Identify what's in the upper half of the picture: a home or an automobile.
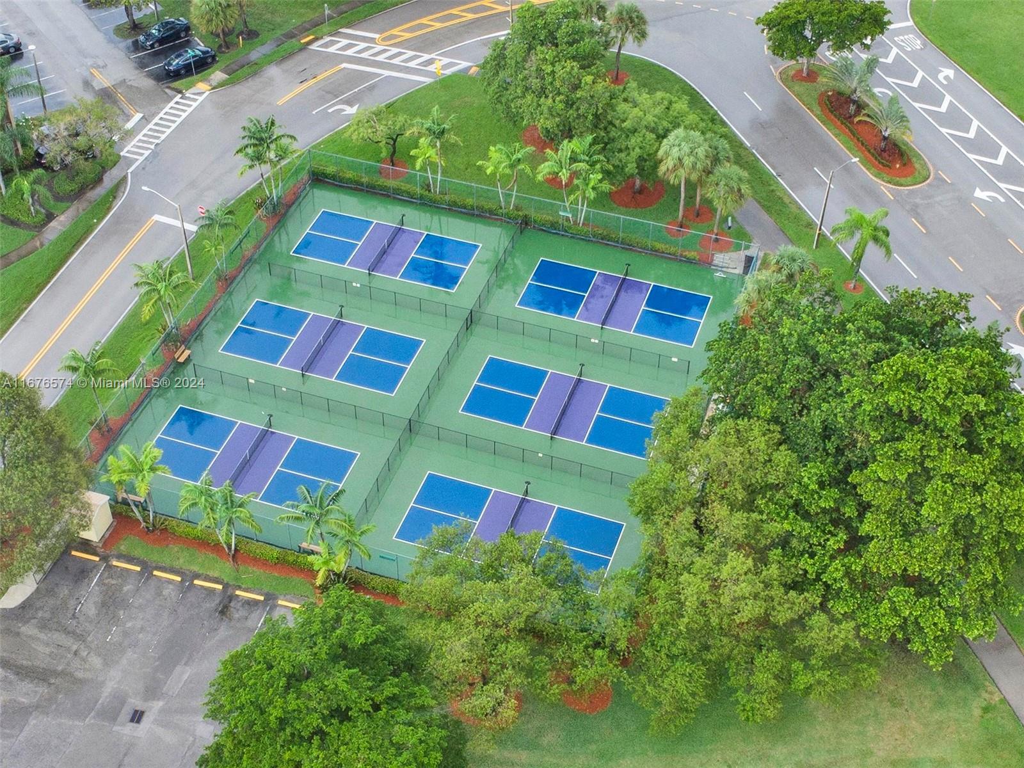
automobile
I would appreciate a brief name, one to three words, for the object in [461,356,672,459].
sports court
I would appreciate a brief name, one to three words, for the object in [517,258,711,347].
sports court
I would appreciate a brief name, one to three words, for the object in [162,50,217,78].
car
